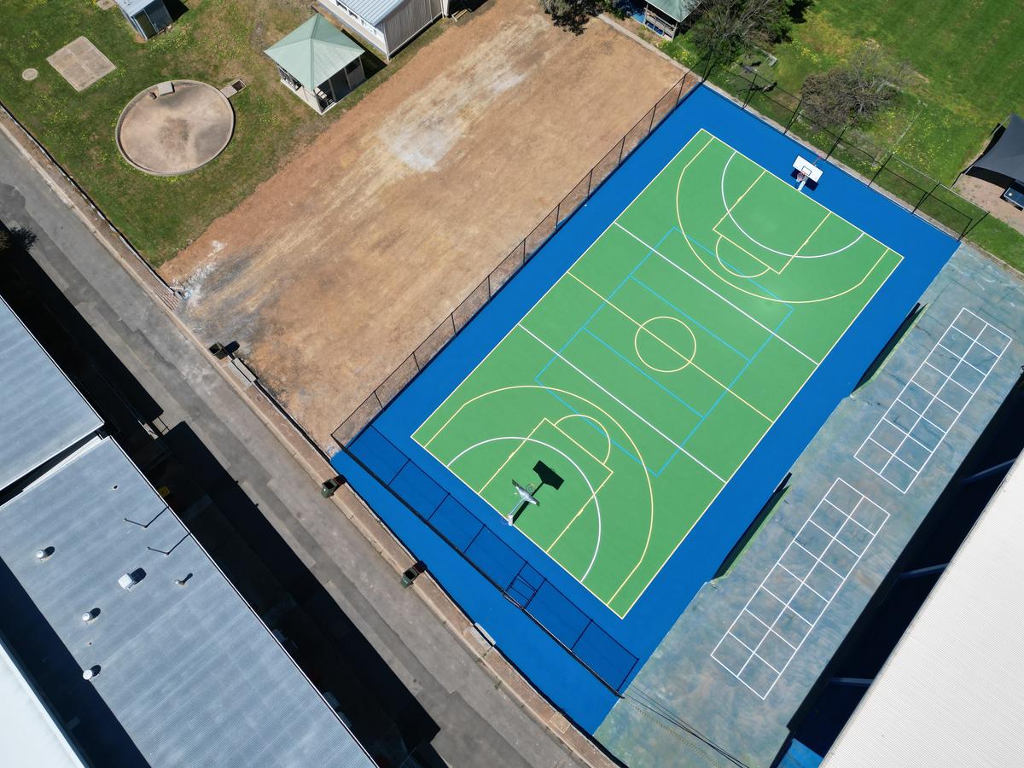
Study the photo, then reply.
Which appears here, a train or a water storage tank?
water storage tank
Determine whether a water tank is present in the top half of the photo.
Yes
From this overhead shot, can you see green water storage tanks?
No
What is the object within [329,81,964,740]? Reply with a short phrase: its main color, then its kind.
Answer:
green sports court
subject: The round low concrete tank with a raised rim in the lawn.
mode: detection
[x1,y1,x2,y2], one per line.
[116,79,239,181]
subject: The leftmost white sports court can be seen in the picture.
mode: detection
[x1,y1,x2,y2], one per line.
[710,477,891,699]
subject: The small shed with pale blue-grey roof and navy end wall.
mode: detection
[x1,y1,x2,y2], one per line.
[102,0,172,41]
